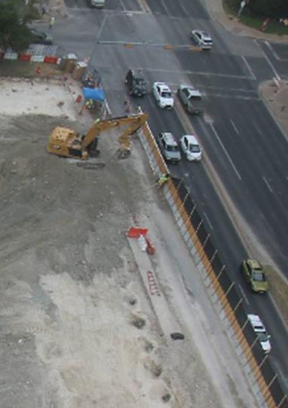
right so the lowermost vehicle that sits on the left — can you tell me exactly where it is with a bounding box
[50,110,153,159]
